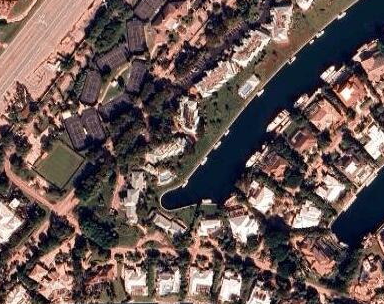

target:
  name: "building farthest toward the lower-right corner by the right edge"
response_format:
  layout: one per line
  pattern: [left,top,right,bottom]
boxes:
[344,259,383,302]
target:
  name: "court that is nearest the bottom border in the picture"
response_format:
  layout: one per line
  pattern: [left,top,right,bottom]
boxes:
[32,140,85,188]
